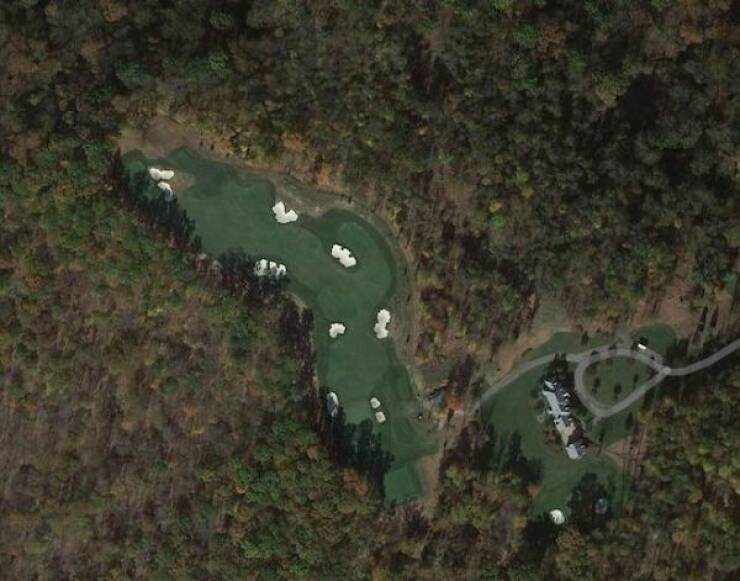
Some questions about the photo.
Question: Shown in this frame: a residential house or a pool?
residential house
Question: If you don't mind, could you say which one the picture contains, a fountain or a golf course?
golf course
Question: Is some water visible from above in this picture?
No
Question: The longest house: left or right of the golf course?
right of it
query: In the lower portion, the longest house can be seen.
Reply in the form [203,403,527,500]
[542,378,587,460]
